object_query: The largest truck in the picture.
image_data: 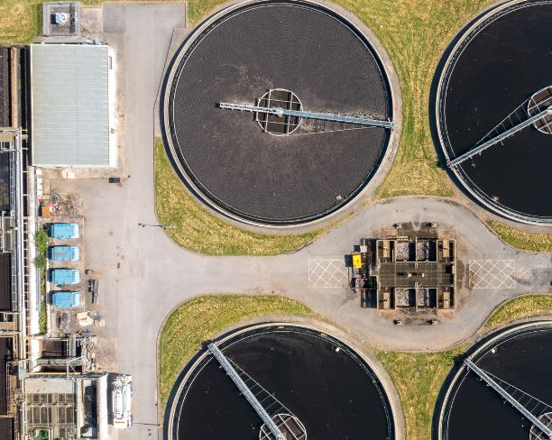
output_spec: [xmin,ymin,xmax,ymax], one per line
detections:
[114,373,136,428]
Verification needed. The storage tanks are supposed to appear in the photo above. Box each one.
[429,0,552,233]
[429,310,552,440]
[164,313,407,440]
[160,0,403,235]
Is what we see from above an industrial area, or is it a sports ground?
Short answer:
industrial area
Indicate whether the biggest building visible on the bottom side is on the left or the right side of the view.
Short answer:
right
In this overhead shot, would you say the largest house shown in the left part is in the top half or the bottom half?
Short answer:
top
